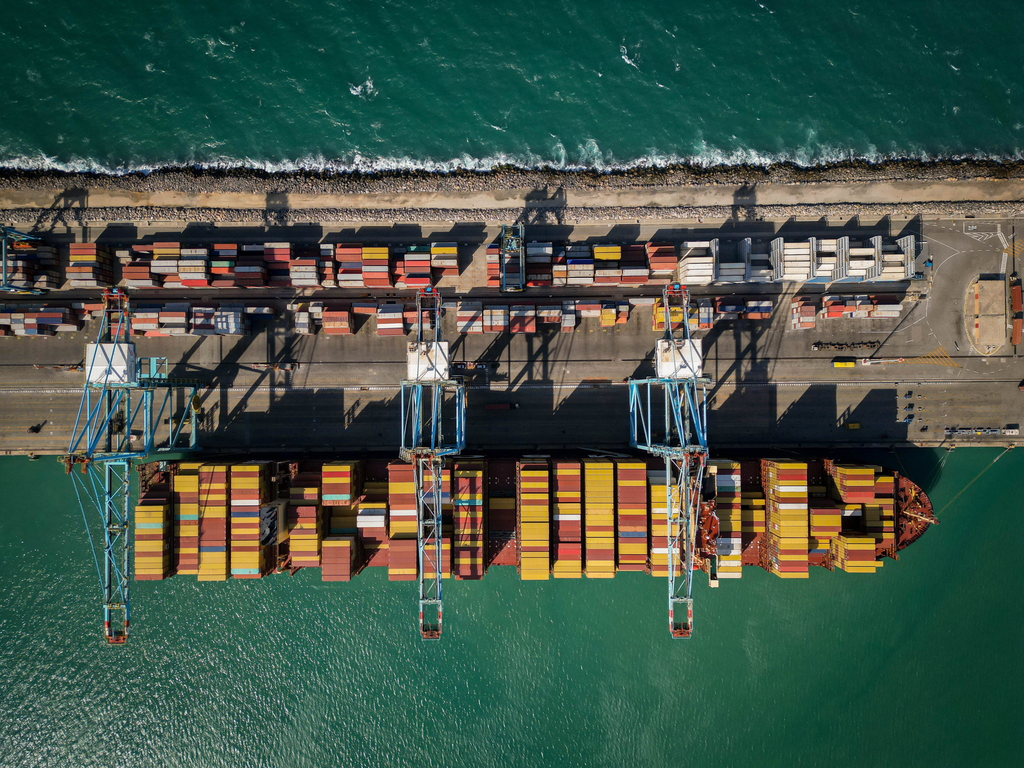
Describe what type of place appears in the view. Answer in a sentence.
The area seen from above is a port.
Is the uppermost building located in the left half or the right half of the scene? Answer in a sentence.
You can find the uppermost building on the right side of the picture.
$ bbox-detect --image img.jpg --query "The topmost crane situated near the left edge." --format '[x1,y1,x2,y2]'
[0,225,45,302]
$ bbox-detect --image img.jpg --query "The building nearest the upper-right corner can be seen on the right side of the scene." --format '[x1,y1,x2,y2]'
[973,280,1008,345]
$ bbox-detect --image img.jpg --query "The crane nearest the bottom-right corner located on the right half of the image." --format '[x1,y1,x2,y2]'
[618,281,711,641]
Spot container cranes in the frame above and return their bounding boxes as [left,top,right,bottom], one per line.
[62,285,210,645]
[618,281,711,641]
[397,283,477,643]
[497,221,526,298]
[0,225,45,302]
